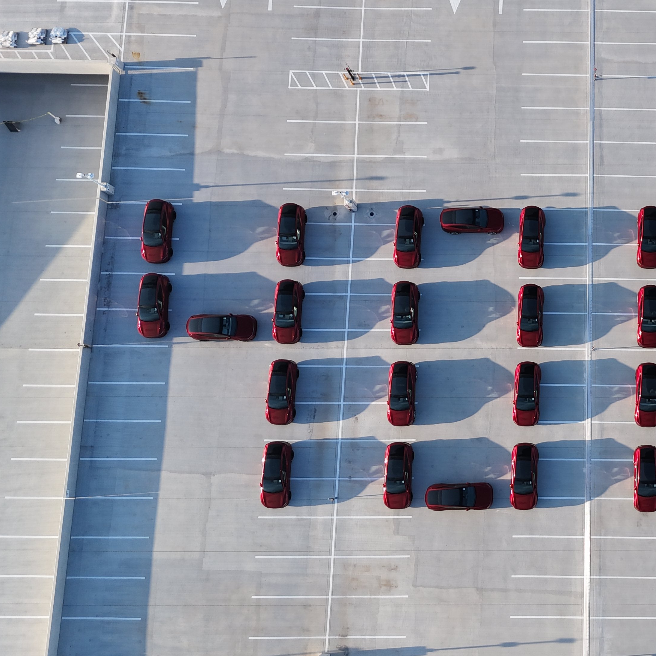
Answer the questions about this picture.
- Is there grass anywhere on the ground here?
No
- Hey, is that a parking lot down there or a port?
parking lot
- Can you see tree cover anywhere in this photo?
No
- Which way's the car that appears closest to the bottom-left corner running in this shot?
up and down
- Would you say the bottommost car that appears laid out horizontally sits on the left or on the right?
right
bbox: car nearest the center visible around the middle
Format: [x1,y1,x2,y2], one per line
[270,280,304,343]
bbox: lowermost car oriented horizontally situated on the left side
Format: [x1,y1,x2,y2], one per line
[186,313,256,342]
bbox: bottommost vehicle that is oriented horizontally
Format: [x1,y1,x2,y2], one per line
[425,483,493,512]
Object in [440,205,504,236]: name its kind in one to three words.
car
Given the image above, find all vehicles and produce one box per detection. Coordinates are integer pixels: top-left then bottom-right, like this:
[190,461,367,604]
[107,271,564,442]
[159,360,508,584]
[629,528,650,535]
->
[509,442,538,510]
[270,280,304,343]
[385,361,418,426]
[440,205,504,236]
[274,203,308,267]
[636,205,656,269]
[263,360,300,425]
[632,446,656,512]
[512,361,542,426]
[381,442,414,509]
[425,483,493,512]
[388,281,420,345]
[516,283,544,347]
[135,274,172,337]
[138,199,177,263]
[517,205,545,269]
[636,284,656,348]
[635,362,656,427]
[257,441,294,509]
[392,205,424,269]
[186,313,256,342]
